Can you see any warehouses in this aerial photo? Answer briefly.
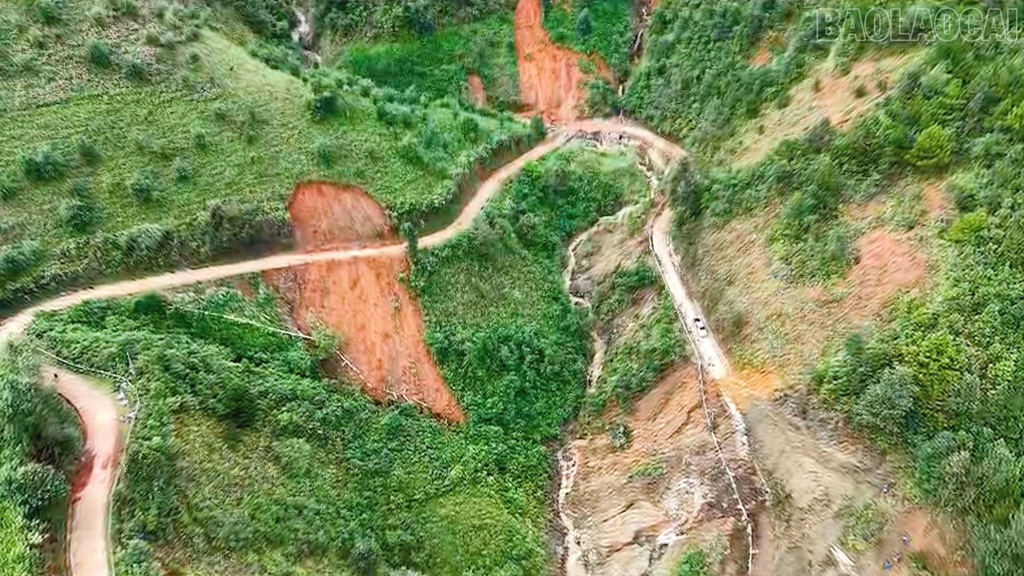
No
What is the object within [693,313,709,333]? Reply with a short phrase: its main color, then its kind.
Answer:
white vehicle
